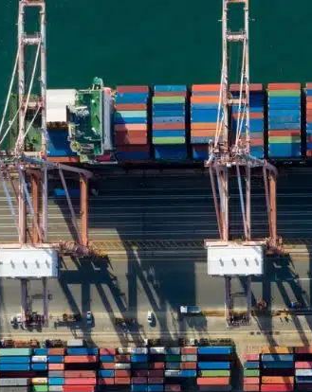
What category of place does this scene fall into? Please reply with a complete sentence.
It's a port.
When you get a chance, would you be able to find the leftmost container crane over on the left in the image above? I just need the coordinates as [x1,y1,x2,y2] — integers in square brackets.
[0,0,115,331]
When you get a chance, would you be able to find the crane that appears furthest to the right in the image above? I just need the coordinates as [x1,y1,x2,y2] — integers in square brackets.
[202,0,295,331]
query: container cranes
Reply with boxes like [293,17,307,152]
[0,0,115,331]
[202,0,295,331]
